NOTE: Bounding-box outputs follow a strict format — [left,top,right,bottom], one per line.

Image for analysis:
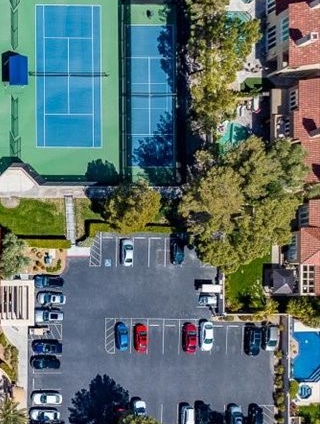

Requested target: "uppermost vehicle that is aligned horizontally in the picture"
[33,275,63,289]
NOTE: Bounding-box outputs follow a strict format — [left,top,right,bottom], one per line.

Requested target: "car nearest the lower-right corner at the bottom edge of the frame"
[247,405,264,424]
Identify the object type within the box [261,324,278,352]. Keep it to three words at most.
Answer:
car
